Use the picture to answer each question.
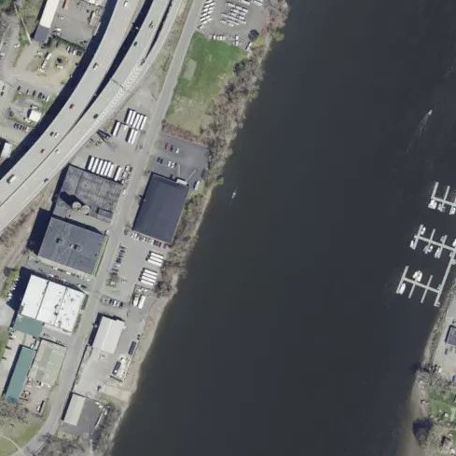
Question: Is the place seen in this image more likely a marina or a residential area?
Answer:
marina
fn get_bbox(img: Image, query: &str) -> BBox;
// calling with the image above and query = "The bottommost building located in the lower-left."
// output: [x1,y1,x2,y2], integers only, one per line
[63,394,85,426]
